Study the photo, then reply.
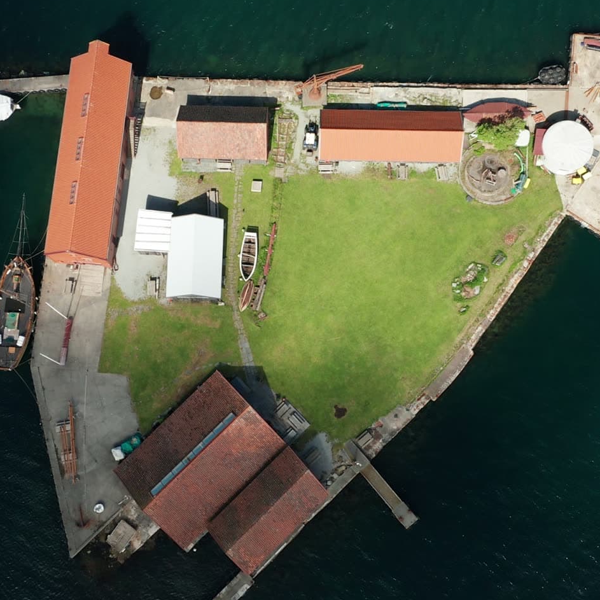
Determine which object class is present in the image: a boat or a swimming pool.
boat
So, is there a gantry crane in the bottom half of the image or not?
No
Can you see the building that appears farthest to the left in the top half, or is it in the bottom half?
top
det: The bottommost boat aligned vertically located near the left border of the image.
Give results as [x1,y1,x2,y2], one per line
[0,196,38,373]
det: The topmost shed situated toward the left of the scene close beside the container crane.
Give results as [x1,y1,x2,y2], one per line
[177,105,268,168]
